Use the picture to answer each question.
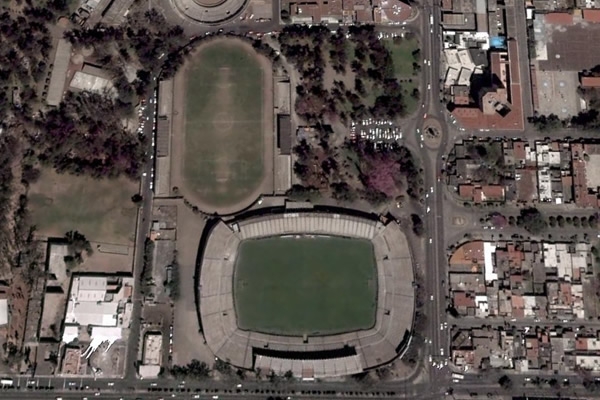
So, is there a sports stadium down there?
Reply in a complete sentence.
Yes, a sports stadium can be made out from above.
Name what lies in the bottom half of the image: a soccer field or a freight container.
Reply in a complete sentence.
Visible in the bottom half of the image is a soccer field.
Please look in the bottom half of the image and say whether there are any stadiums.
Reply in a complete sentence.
Yes, a stadium can be seen in the bottom half of the image.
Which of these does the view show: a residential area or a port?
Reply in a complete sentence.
What you see here is a residential area.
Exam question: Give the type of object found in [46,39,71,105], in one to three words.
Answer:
building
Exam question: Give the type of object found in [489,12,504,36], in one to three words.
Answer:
house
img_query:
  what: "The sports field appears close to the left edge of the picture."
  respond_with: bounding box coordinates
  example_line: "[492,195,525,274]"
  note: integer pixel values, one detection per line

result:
[30,170,138,246]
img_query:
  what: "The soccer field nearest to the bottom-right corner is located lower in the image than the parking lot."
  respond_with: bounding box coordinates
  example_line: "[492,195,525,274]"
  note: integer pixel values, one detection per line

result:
[234,237,376,335]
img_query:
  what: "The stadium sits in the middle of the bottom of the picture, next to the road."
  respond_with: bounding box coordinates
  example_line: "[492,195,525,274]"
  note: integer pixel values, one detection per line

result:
[198,202,417,380]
